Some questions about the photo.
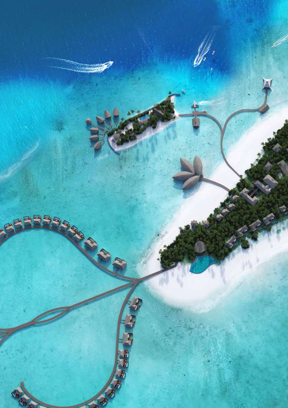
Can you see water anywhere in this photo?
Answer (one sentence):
Yes, the picture does contain water.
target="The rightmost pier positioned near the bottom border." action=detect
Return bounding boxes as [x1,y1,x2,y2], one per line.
[20,280,139,408]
